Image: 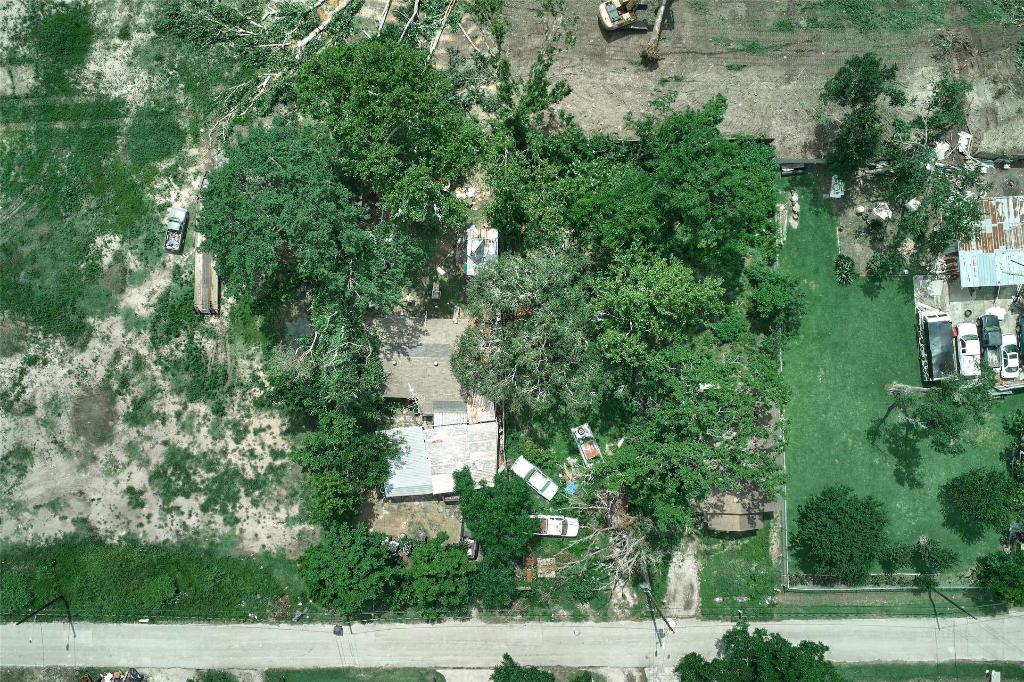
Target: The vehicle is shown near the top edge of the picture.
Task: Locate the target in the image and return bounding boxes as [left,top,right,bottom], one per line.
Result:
[600,0,641,37]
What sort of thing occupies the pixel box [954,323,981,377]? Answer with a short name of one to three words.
truck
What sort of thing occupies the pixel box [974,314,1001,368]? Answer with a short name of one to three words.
truck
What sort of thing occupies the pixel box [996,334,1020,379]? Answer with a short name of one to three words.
car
